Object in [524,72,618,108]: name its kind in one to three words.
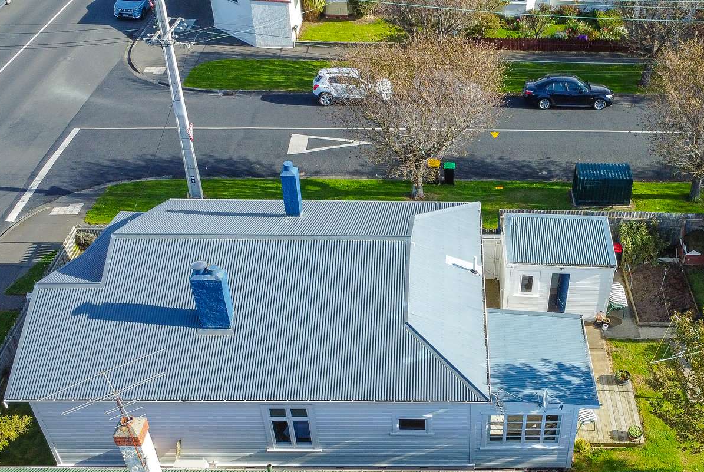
car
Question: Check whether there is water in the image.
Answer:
No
